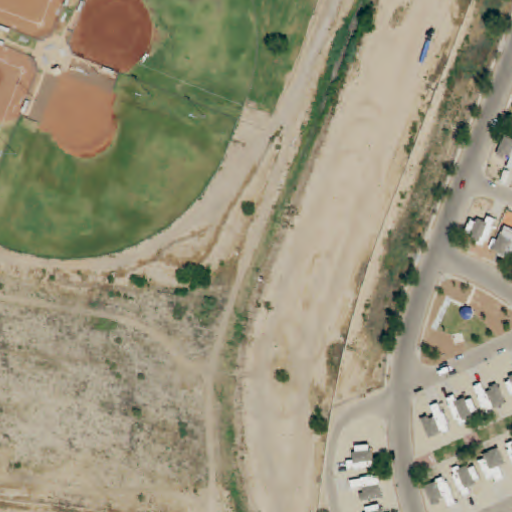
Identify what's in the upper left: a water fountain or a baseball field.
baseball field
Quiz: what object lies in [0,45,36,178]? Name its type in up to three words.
baseball field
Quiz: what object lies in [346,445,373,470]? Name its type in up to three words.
house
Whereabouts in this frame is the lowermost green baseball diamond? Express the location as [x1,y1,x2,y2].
[0,69,243,258]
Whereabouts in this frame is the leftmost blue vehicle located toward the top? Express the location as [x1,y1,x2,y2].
[418,30,432,61]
